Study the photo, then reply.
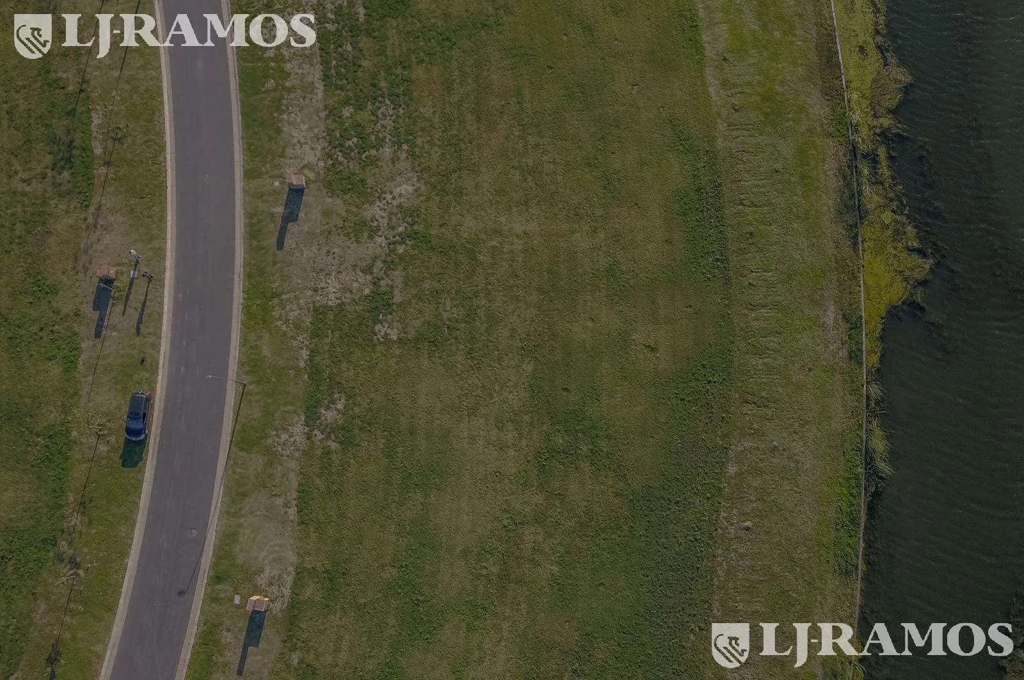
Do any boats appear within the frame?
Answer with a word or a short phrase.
No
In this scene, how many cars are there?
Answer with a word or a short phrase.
1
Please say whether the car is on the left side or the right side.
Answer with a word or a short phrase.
left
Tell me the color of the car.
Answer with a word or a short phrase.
black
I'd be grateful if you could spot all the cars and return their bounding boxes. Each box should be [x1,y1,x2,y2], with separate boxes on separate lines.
[121,391,155,442]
